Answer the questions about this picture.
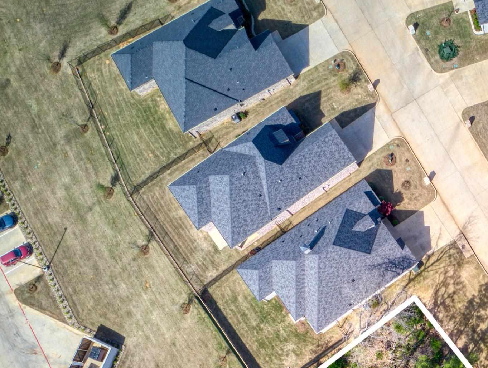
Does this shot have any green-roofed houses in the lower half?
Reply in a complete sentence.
No, in the lower half there is no green-roofed house.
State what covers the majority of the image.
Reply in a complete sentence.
The scene is dominated by grass.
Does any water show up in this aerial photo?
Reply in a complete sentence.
No, there's no water in this view.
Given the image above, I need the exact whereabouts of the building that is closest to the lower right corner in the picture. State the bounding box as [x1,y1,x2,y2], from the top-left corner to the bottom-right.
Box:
[236,179,419,334]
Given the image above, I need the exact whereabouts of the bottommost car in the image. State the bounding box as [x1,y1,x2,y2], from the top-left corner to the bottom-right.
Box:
[0,241,33,266]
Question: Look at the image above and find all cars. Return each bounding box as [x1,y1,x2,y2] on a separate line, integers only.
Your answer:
[0,241,33,266]
[0,209,18,229]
